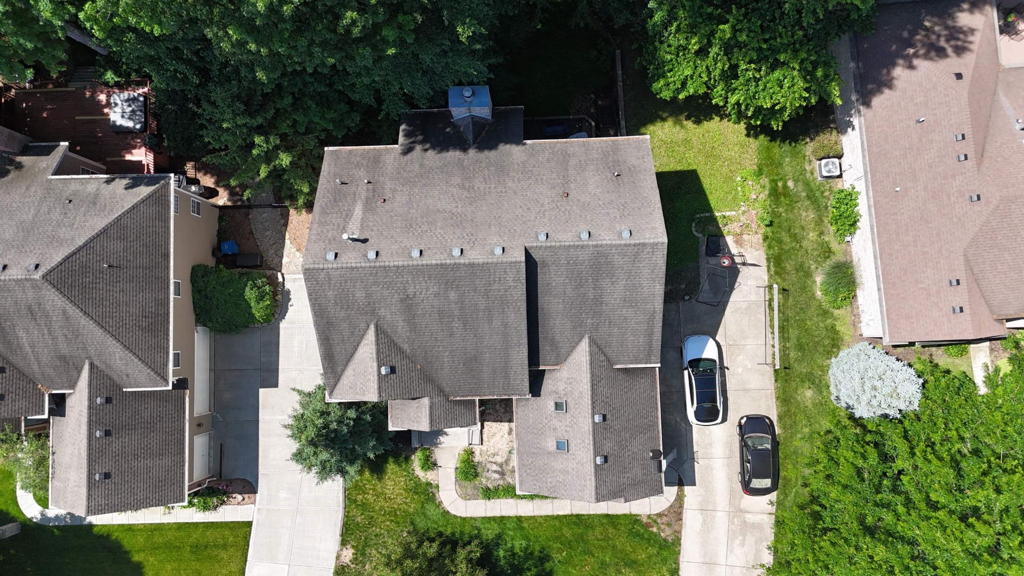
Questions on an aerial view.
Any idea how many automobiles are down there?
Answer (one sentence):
The number of automobiles here is 2.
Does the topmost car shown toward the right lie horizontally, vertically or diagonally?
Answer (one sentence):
The topmost car shown toward the right runs vertically in the image.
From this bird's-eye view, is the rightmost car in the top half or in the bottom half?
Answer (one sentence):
You can find the rightmost car in the bottom half.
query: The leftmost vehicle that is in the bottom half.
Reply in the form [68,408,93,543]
[680,336,723,425]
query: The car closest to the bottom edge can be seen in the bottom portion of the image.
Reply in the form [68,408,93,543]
[736,413,778,497]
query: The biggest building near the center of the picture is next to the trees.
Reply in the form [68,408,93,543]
[303,85,669,502]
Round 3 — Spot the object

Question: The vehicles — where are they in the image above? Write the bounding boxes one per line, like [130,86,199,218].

[680,336,723,425]
[736,413,778,497]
